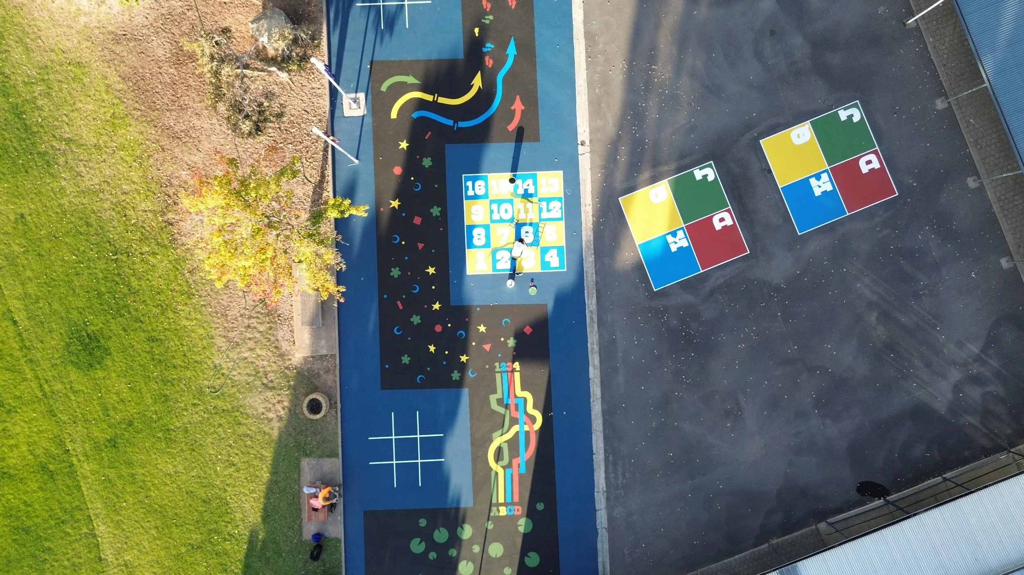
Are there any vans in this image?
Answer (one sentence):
No, I find no van anywhere in the image.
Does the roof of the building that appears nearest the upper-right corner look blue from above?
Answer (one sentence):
Yes, the roof of the building that appears nearest the upper-right corner appears blue.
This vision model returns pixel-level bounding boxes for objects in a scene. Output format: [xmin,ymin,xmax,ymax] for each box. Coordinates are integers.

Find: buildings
[753,468,1024,575]
[952,0,1024,174]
